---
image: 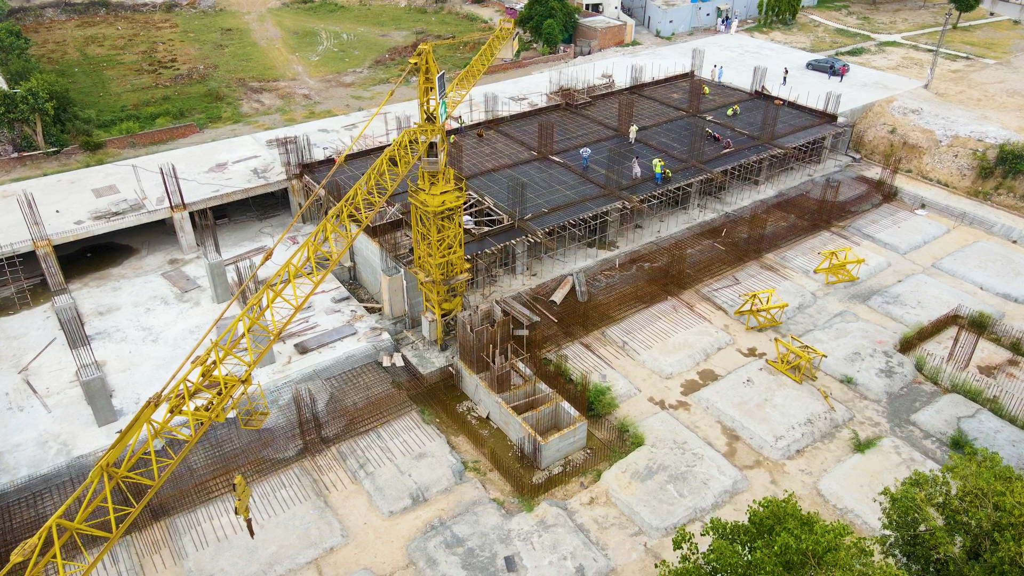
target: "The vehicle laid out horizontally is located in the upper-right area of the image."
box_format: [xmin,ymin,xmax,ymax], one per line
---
[806,57,852,77]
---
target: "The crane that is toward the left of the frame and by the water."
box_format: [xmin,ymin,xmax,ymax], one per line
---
[1,4,520,576]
